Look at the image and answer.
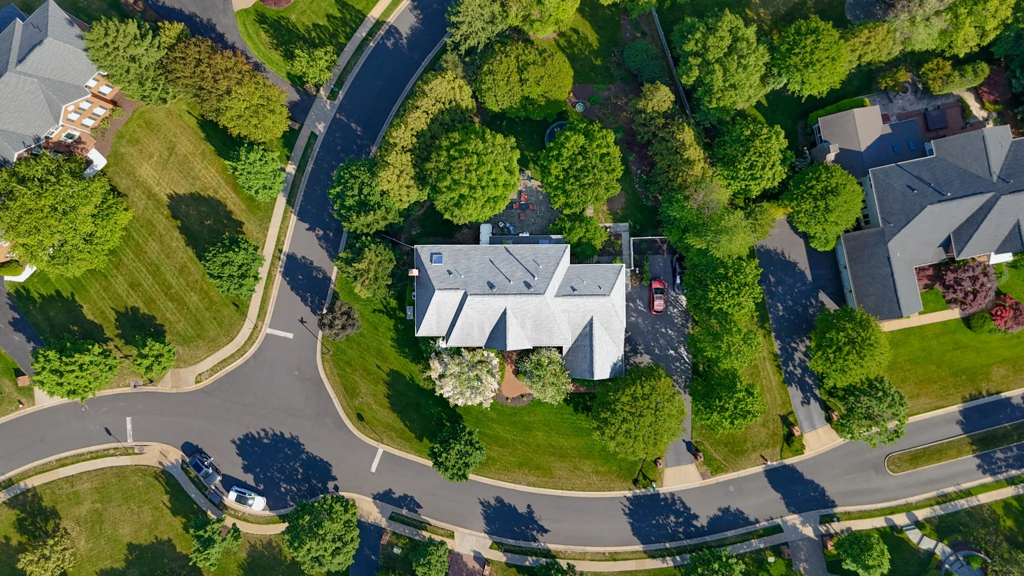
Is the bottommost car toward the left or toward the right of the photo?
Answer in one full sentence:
The bottommost car appears in the left half of the scene.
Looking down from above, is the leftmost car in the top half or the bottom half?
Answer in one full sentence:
It is in the bottom half that the leftmost car appears.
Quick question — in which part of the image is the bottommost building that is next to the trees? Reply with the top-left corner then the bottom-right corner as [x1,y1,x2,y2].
[408,244,626,380]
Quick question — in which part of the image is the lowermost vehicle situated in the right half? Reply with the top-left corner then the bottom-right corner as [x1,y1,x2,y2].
[649,279,668,316]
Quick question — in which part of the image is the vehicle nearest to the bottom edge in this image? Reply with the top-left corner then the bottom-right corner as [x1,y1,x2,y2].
[226,487,266,511]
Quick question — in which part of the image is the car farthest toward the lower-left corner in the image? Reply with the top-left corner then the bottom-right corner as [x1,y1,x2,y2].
[186,452,221,487]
